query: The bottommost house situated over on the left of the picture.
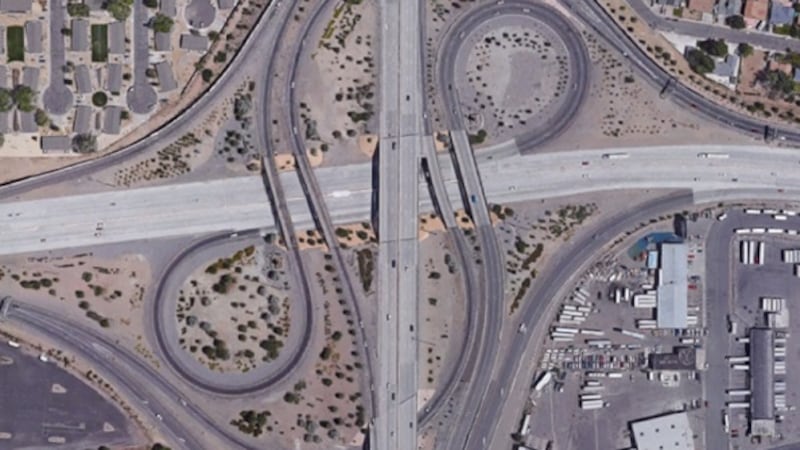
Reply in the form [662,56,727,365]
[41,137,70,150]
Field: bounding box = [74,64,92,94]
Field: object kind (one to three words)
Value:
house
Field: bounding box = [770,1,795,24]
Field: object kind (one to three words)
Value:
house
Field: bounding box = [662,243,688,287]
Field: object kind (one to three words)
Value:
building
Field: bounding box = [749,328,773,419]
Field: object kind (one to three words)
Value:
building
